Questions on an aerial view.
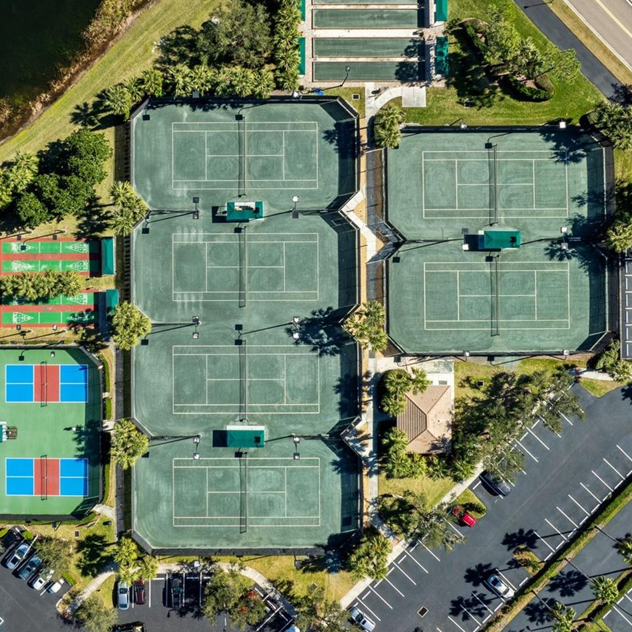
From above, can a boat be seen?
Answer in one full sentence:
No, the frame has no boat in it.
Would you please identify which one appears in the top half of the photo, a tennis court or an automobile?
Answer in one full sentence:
You can see a tennis court in the top half of the photo.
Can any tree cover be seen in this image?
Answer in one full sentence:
Yes, there is tree cover in the image.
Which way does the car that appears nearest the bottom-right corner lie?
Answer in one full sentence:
The car that appears nearest the bottom-right corner has been laid out at an angle relative to the frame.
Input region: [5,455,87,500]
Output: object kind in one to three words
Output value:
sports court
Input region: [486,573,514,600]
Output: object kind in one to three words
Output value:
car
